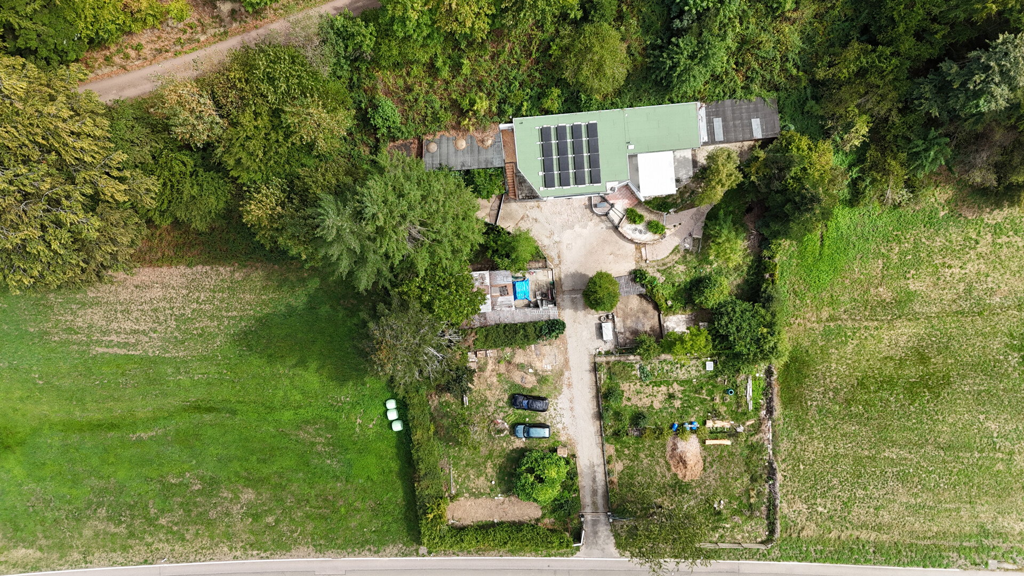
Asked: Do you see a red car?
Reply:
No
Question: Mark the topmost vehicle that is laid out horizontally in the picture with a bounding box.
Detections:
[511,394,548,411]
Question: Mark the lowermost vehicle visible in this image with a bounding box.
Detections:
[515,423,550,440]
